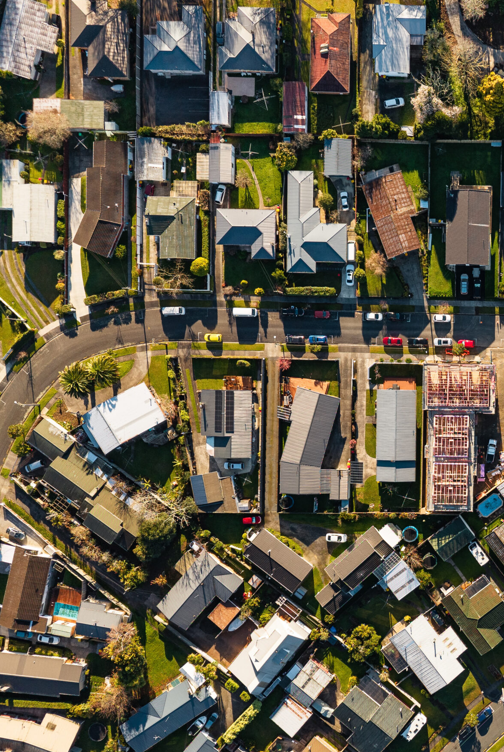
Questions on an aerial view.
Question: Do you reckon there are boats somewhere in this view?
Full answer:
Yes, there's a boat down there.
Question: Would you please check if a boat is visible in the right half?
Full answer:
Yes, a boat is visible in the right half.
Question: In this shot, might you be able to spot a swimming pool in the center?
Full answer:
No, the scene shows no swimming pool in the center.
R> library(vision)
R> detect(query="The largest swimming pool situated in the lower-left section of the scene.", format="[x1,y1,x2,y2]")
[53,603,80,619]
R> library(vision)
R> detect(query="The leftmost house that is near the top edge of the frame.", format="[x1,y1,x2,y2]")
[0,0,60,83]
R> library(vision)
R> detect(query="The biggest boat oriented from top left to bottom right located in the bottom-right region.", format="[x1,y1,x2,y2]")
[470,543,491,567]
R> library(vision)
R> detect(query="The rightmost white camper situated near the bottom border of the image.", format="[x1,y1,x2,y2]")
[401,708,428,741]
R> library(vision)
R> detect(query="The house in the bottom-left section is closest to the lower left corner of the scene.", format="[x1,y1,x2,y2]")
[0,710,84,752]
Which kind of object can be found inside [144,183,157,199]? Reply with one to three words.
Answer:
vehicle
